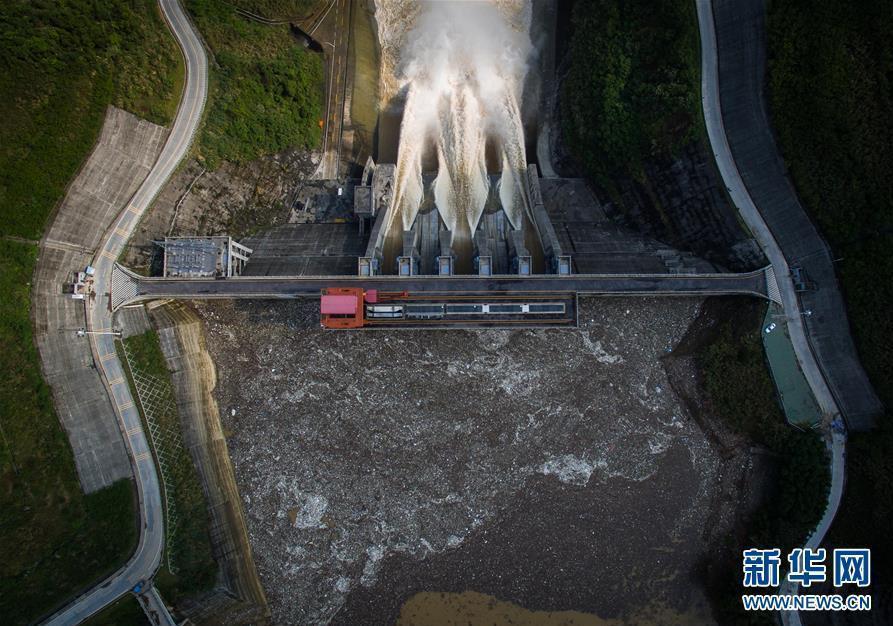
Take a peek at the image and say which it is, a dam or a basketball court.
dam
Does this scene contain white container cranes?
No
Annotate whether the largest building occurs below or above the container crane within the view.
above it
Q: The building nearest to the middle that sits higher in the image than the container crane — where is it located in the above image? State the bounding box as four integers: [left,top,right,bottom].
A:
[354,187,378,221]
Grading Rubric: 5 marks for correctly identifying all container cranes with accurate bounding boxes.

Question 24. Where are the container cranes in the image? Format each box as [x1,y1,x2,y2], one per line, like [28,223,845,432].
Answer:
[320,289,407,329]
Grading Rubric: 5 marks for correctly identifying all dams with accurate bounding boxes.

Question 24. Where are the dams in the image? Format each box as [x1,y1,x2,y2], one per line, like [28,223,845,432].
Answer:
[110,159,786,330]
